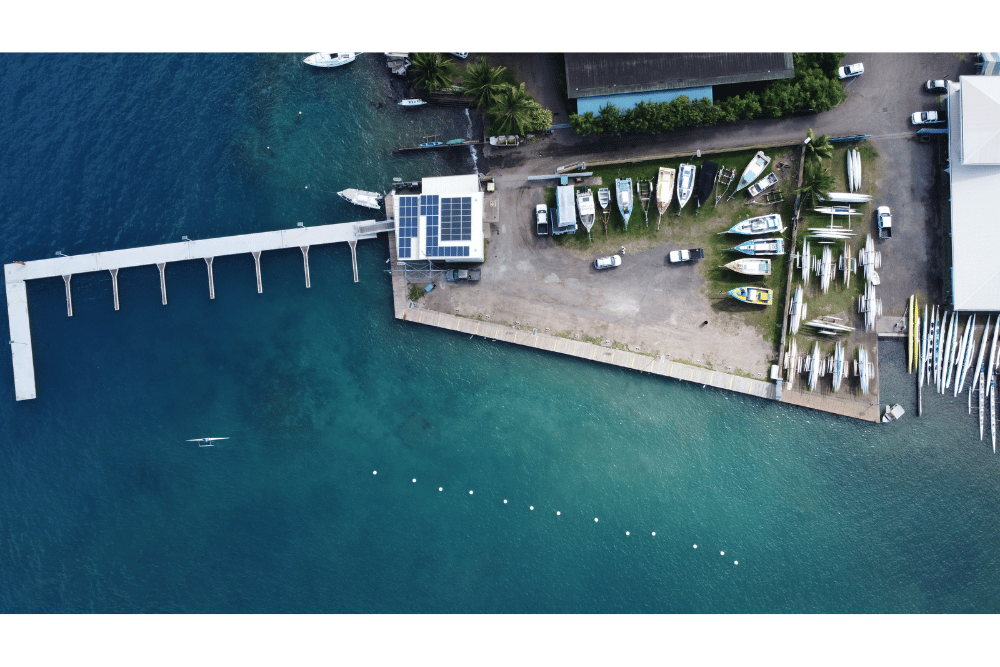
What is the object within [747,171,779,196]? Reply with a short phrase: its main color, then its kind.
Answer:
white truck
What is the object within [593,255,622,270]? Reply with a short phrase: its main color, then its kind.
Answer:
white car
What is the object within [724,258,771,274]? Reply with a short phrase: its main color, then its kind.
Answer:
white boat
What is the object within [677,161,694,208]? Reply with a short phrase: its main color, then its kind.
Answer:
white boat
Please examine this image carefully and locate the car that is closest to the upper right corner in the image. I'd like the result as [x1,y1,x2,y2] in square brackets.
[926,77,953,92]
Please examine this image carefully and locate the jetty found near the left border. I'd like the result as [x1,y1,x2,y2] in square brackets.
[5,220,377,400]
